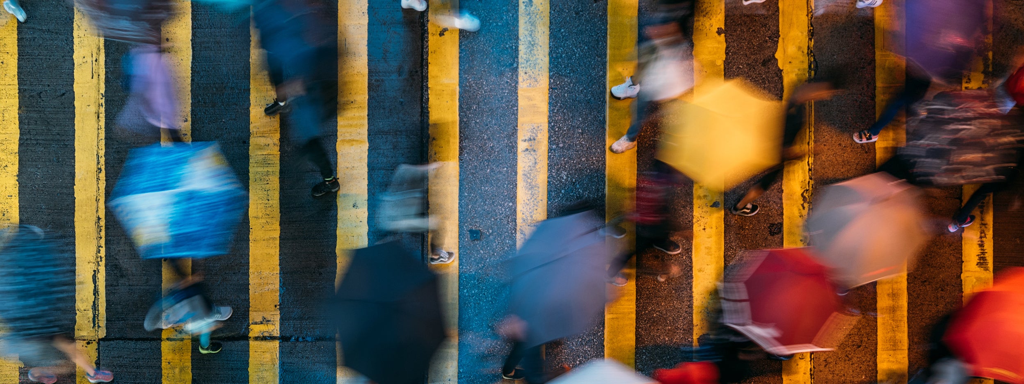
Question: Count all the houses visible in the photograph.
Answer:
none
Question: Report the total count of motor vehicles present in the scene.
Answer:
zero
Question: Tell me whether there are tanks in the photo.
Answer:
No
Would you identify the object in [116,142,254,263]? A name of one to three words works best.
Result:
umbrella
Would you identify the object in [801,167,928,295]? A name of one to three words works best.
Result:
umbrella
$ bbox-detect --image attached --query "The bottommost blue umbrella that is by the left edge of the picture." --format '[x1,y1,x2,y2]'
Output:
[0,210,88,354]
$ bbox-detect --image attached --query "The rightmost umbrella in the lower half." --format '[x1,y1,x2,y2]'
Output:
[936,263,1024,384]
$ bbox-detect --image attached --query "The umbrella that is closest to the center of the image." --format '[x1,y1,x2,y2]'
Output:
[490,205,610,350]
